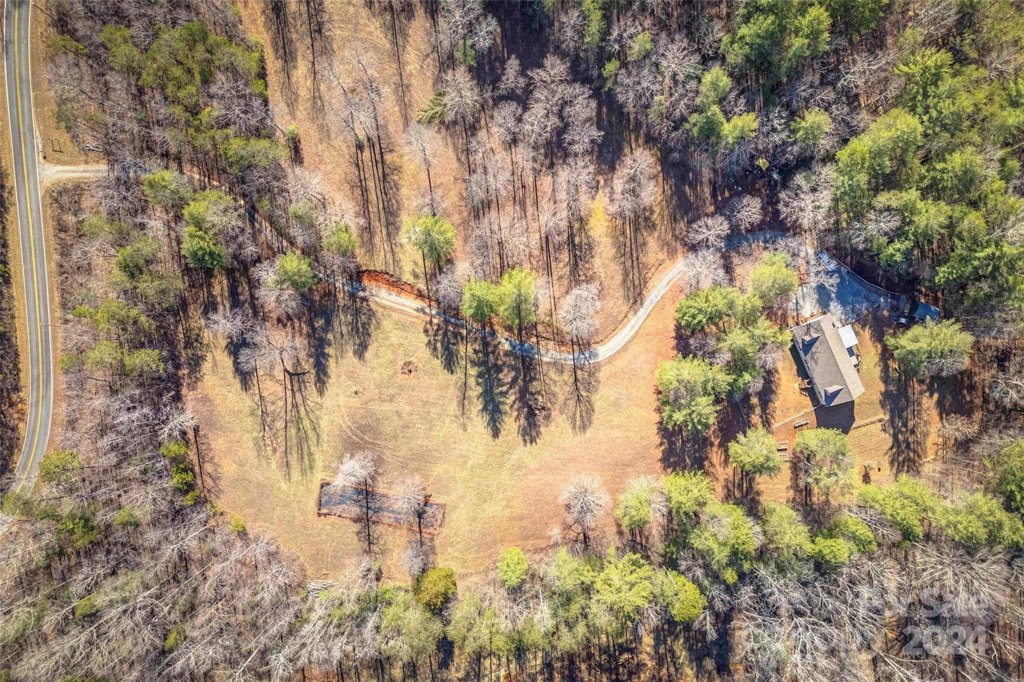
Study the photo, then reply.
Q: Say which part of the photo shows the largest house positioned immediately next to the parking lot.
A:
right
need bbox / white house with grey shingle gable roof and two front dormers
[789,313,865,408]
